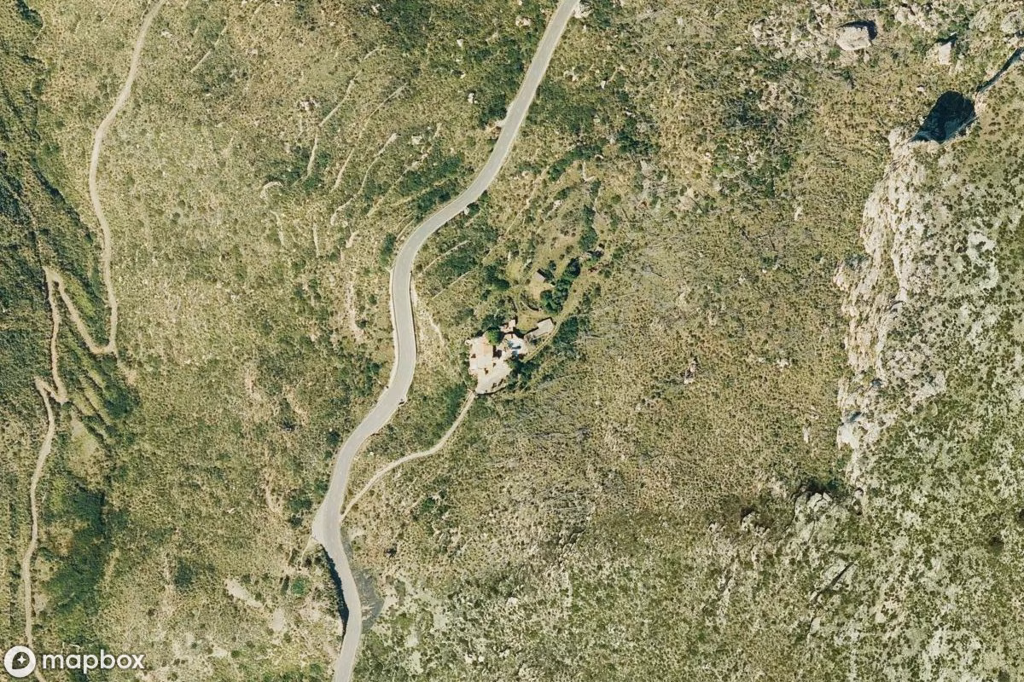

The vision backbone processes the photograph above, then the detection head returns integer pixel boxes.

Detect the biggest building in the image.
[469,334,494,377]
